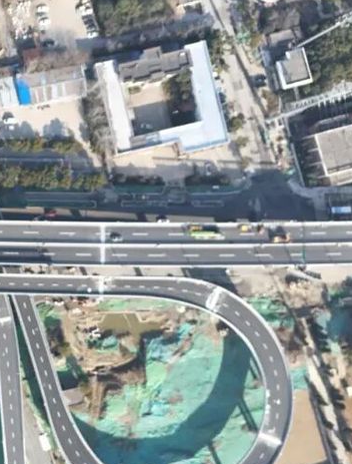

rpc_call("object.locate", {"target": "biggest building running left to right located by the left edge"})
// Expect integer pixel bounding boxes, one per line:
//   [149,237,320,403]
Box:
[17,63,90,103]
